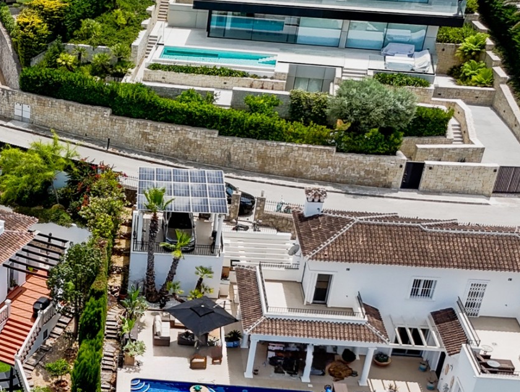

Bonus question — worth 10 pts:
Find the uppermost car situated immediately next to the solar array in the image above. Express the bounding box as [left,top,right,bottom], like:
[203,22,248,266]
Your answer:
[224,179,282,215]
